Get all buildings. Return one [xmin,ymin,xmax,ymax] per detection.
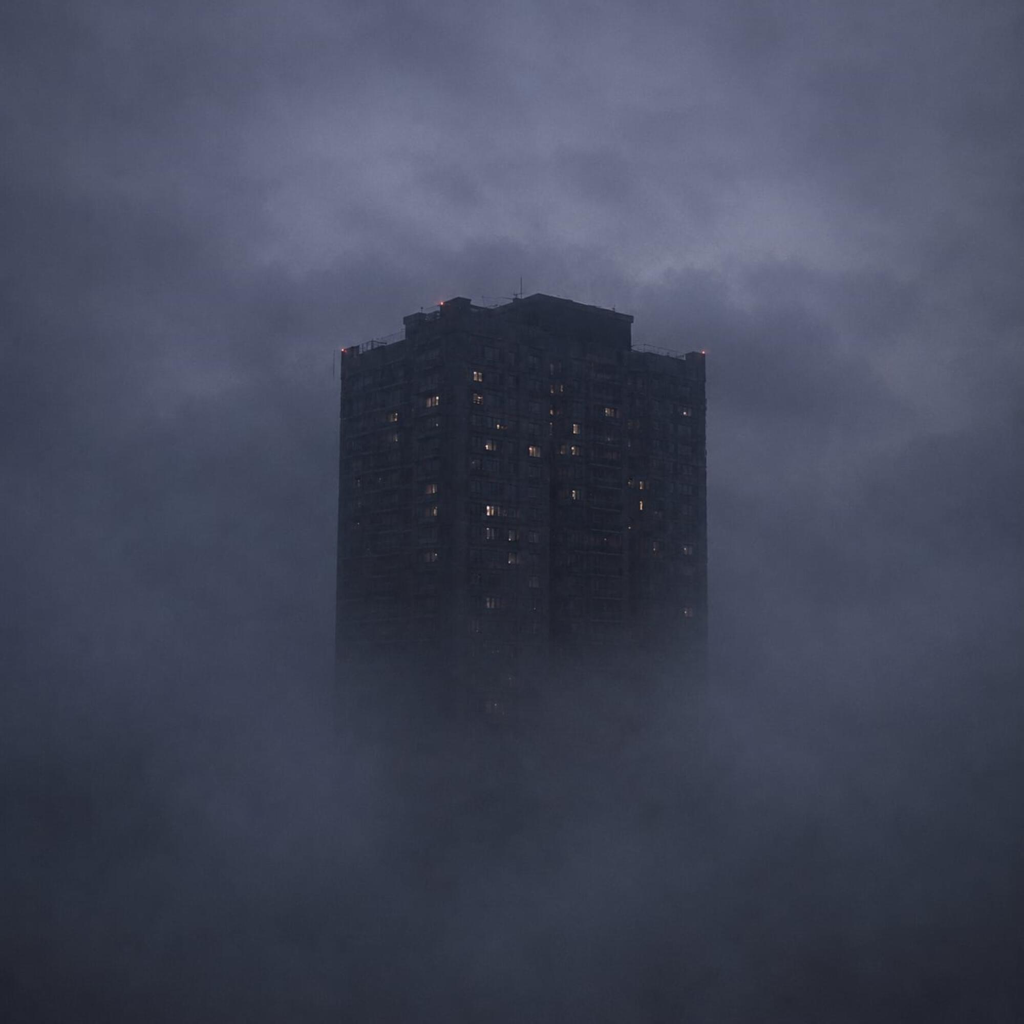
[331,293,712,1014]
